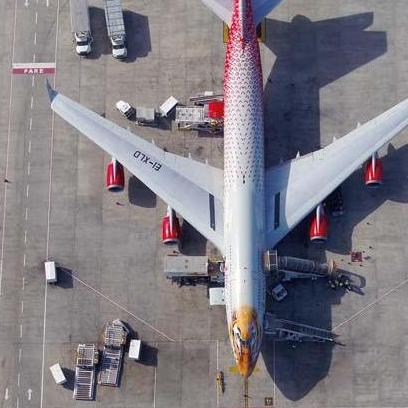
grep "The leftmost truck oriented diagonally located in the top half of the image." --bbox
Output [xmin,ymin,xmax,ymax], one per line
[116,99,138,122]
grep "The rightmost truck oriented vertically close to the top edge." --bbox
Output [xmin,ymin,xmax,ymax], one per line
[106,3,128,62]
